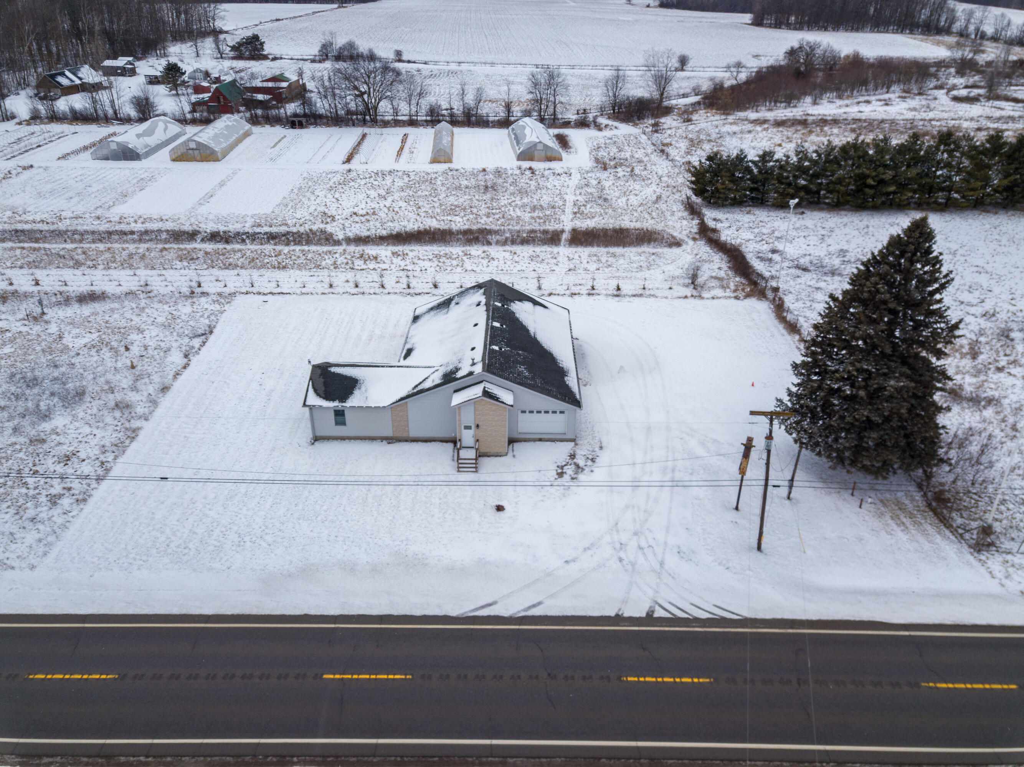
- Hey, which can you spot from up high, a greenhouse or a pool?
greenhouse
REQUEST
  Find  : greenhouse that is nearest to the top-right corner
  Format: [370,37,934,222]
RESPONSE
[511,113,563,161]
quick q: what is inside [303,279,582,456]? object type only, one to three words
house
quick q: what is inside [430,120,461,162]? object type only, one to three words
greenhouse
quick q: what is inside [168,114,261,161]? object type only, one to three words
greenhouse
